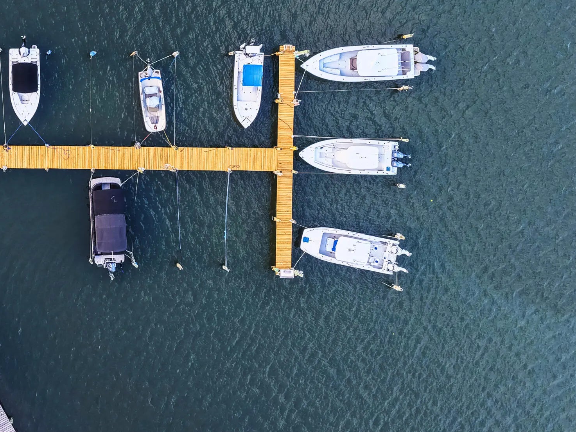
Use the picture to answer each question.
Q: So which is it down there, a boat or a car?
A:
boat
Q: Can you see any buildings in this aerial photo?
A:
No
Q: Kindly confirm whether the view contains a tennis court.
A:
No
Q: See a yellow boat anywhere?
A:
No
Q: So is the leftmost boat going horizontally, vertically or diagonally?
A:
vertically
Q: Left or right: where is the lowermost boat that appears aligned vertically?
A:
left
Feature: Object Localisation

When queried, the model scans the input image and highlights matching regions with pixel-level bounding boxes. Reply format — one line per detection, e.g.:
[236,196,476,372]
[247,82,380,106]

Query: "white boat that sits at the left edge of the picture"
[9,33,40,126]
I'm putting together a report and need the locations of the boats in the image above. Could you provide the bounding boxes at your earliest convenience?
[231,39,265,128]
[299,227,413,274]
[295,139,415,174]
[90,176,128,281]
[9,33,40,126]
[297,42,436,83]
[139,56,166,132]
